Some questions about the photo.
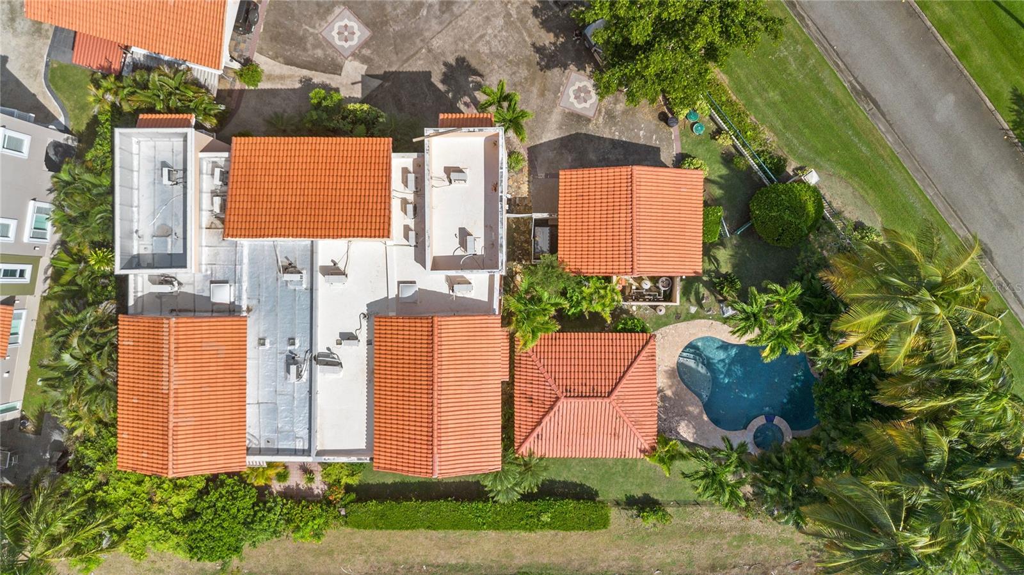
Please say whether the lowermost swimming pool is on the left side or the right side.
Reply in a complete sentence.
The lowermost swimming pool sits on the right side.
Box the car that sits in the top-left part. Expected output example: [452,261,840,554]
[227,0,260,33]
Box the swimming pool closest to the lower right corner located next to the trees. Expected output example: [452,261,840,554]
[677,336,825,449]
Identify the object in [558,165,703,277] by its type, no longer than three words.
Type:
building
